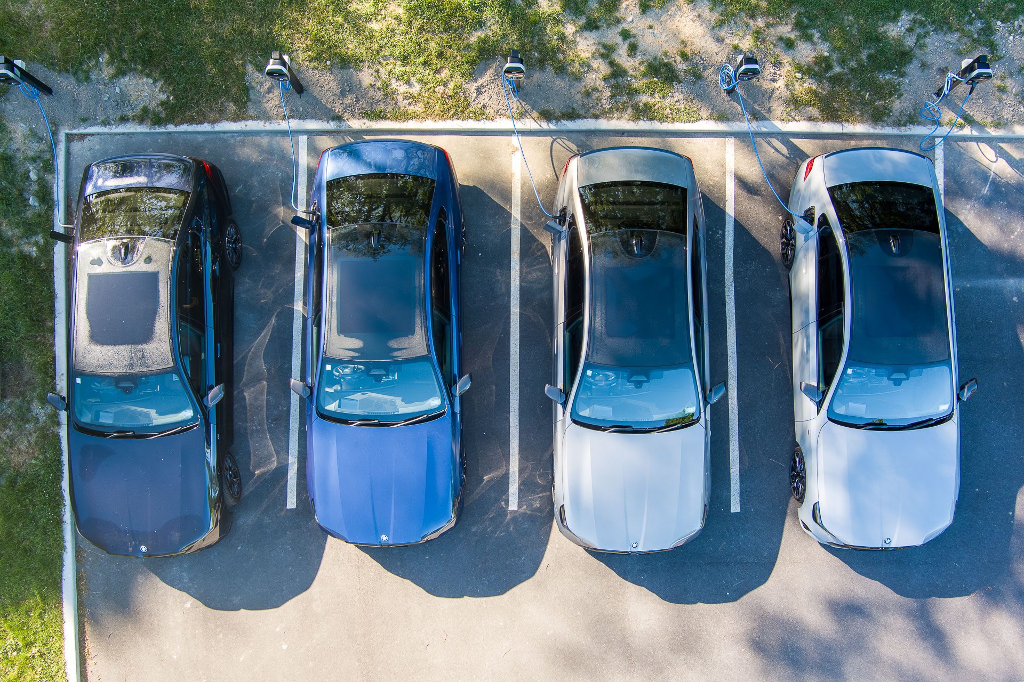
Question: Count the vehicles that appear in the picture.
4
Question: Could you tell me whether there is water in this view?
No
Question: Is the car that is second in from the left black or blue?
blue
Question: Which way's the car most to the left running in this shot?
vertically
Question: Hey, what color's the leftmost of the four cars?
blue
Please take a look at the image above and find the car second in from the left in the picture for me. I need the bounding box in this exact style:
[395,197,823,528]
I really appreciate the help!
[291,140,473,548]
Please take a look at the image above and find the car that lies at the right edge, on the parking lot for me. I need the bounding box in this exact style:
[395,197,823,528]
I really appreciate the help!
[778,141,981,551]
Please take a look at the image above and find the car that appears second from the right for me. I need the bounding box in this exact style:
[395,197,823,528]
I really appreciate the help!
[538,145,726,555]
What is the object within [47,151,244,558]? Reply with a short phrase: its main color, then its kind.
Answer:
blue car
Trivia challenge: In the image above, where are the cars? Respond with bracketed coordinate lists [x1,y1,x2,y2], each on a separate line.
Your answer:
[47,151,244,558]
[778,141,981,551]
[291,140,473,548]
[538,145,726,555]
